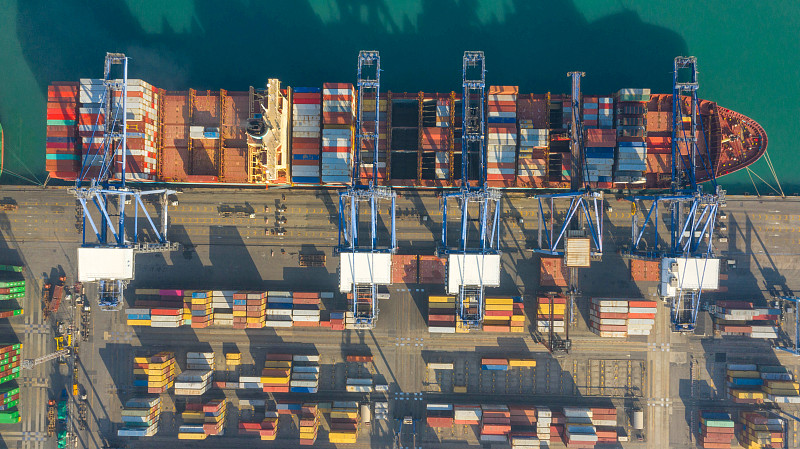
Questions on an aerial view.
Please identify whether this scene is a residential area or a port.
port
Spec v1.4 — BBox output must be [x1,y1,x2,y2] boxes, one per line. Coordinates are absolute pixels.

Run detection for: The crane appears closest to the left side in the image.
[70,54,184,310]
